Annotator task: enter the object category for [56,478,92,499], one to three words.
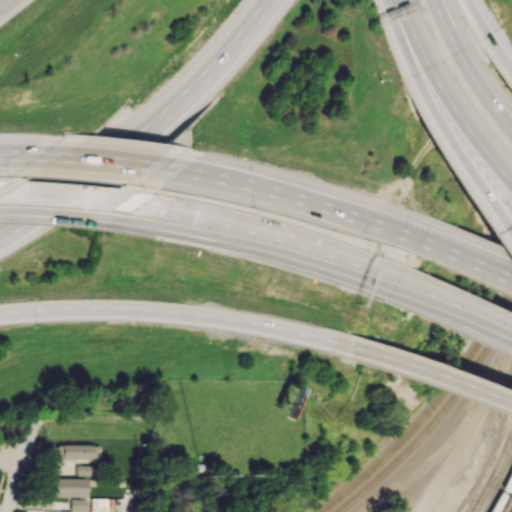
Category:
house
